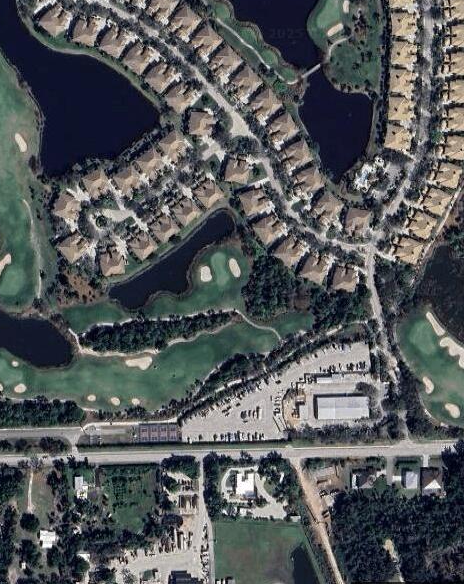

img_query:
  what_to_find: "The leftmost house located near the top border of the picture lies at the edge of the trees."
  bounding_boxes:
[38,4,72,35]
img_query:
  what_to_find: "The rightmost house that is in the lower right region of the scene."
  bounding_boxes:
[422,467,443,494]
